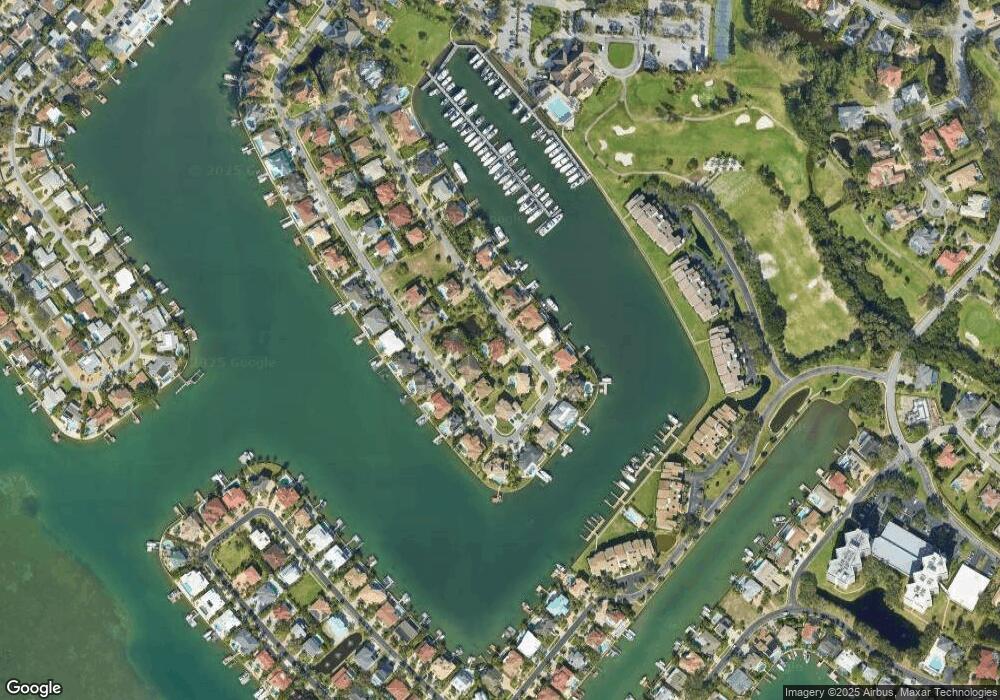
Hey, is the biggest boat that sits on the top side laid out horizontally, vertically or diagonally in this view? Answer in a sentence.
The biggest boat that sits on the top side is laid out diagonally.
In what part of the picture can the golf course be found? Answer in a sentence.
The golf course is in the top right part of the image.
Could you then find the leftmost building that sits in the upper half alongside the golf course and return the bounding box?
[546,45,599,92]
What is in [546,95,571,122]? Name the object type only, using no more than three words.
swimming pool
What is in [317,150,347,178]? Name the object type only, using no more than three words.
house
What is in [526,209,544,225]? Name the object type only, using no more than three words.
boat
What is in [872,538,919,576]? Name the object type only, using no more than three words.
building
